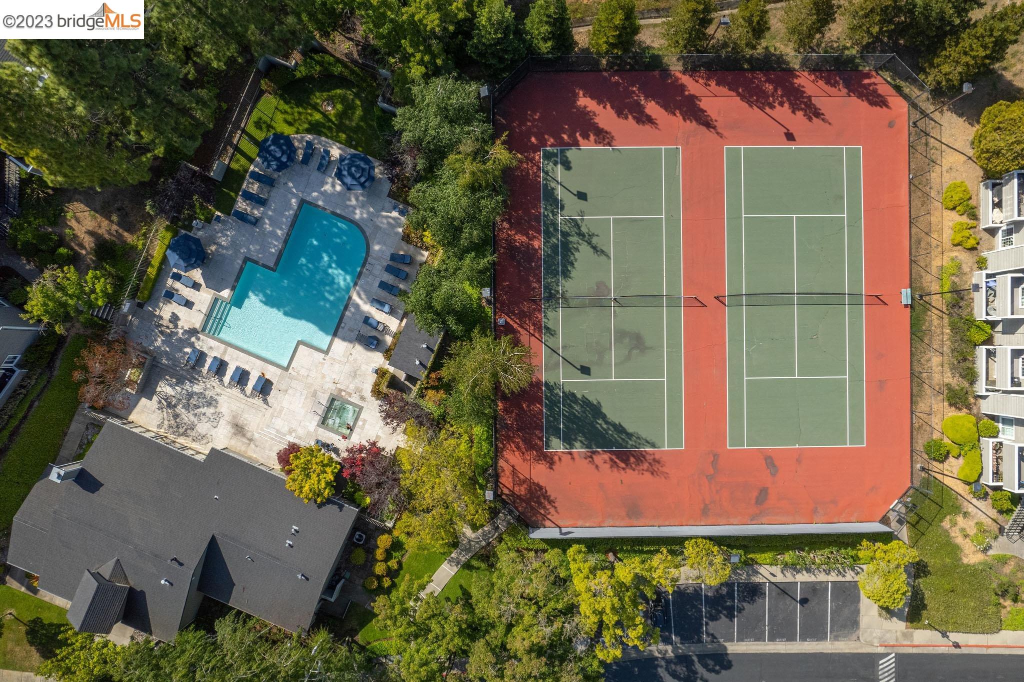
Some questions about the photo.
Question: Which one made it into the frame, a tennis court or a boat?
tennis court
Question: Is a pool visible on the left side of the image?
Yes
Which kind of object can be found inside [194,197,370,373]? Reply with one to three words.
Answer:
swimming pool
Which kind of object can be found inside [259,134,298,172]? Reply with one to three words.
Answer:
umbrella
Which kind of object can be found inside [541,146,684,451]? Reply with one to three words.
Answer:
tennis court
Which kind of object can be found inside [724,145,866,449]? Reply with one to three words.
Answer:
tennis court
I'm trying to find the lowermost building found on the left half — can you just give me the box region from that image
[7,418,359,644]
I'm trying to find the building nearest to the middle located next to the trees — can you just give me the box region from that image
[388,318,443,380]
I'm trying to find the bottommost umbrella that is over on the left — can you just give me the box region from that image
[167,234,206,272]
